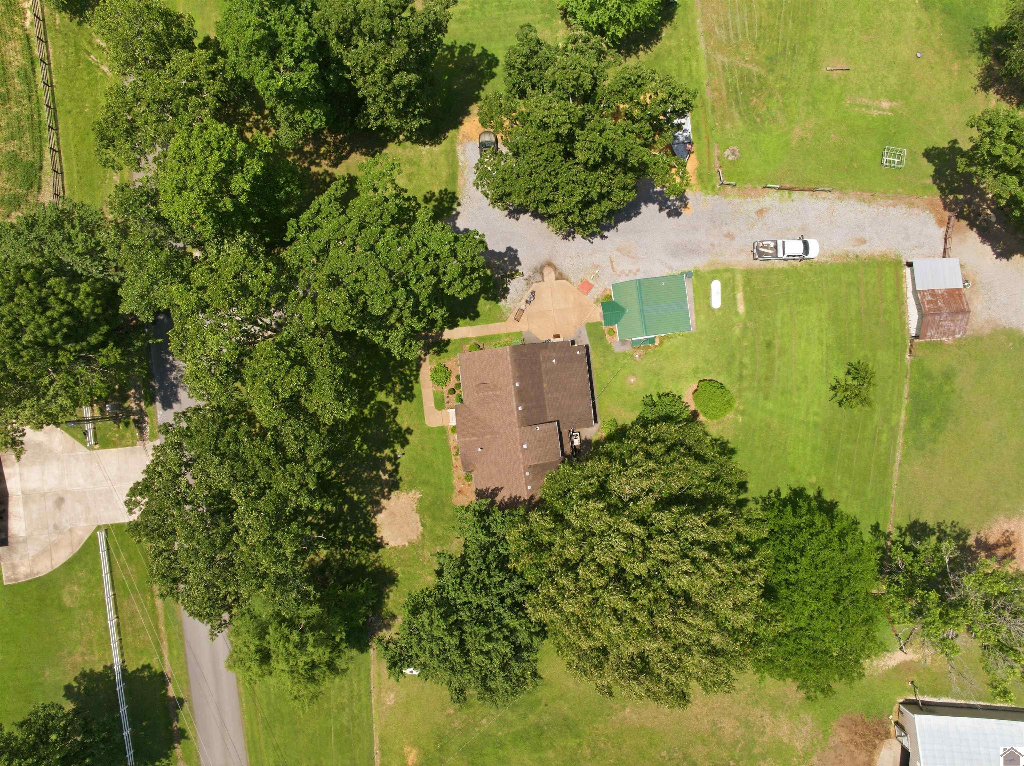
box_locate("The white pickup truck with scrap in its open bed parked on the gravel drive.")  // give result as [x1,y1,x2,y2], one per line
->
[749,233,819,263]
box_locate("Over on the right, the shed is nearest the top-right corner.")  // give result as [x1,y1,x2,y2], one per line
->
[906,258,971,339]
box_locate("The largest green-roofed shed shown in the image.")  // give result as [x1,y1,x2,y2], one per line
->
[598,274,693,346]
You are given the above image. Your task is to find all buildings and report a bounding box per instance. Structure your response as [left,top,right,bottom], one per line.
[598,274,693,346]
[455,341,595,525]
[906,258,971,339]
[890,703,1024,766]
